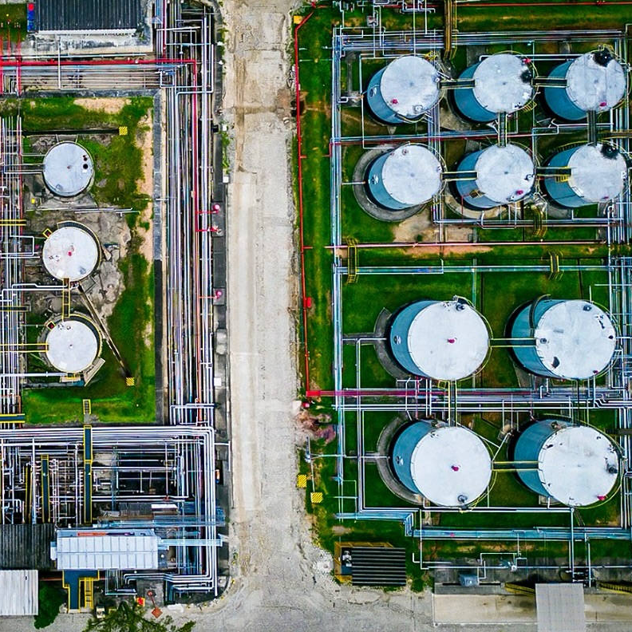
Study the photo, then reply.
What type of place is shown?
industrial area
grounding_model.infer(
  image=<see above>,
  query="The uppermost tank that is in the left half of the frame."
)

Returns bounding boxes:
[39,139,99,203]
